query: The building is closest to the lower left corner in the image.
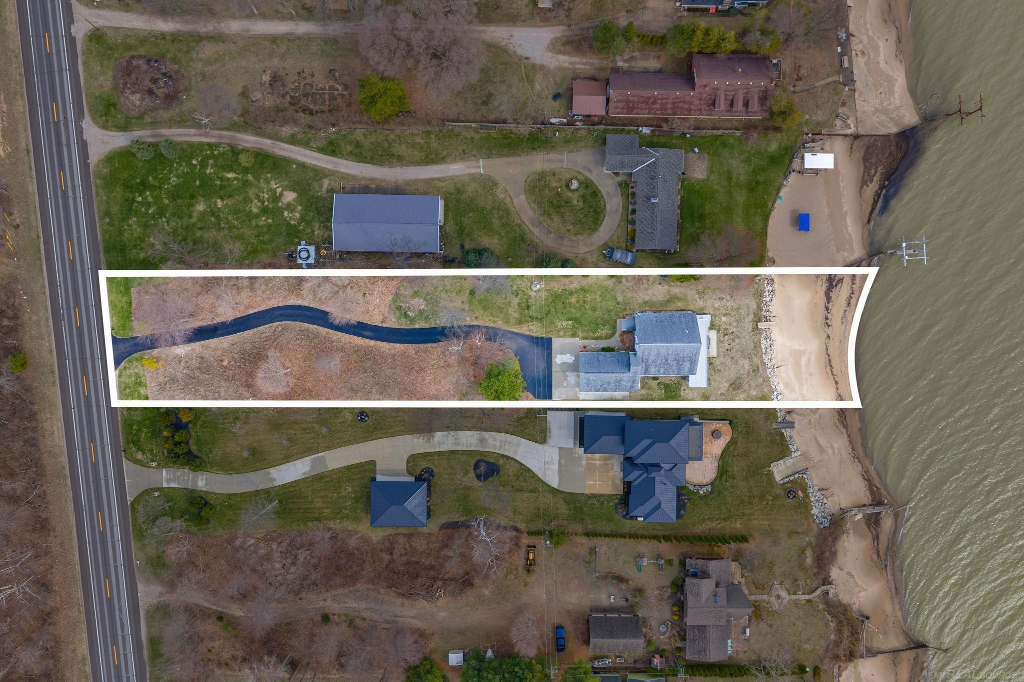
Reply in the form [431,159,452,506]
[370,480,427,527]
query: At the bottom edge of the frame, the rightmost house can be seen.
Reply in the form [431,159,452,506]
[675,552,754,662]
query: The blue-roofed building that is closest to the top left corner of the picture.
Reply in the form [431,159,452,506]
[331,193,441,254]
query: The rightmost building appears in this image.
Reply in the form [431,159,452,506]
[800,153,833,175]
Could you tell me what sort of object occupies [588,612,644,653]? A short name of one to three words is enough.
building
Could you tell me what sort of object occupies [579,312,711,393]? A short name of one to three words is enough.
house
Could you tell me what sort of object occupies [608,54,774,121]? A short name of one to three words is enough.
house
